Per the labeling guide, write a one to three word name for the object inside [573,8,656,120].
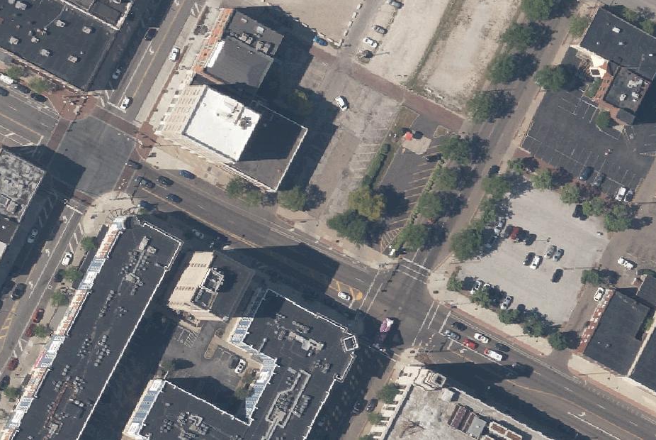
building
